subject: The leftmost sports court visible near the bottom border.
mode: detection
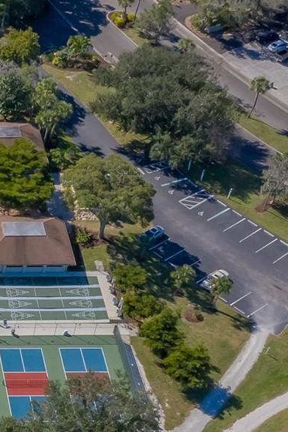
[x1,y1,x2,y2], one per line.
[0,347,51,421]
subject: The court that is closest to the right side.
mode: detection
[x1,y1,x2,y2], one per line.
[59,347,113,419]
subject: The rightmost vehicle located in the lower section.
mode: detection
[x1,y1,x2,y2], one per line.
[203,268,229,285]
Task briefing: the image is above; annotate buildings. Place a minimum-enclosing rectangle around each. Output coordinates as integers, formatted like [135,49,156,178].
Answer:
[0,123,50,175]
[0,216,76,276]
